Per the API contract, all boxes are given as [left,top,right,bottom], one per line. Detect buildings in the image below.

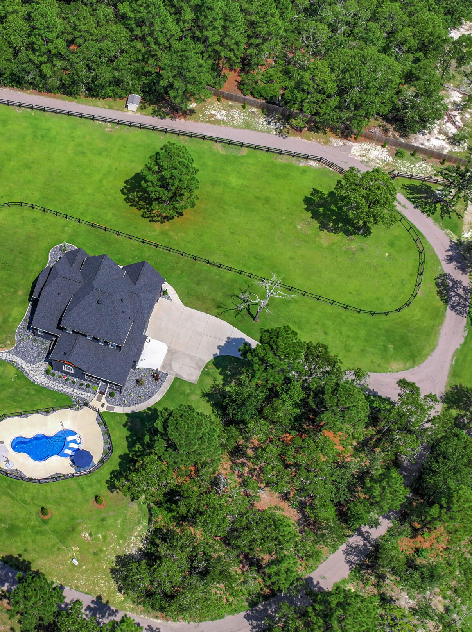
[126,89,141,112]
[31,247,166,395]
